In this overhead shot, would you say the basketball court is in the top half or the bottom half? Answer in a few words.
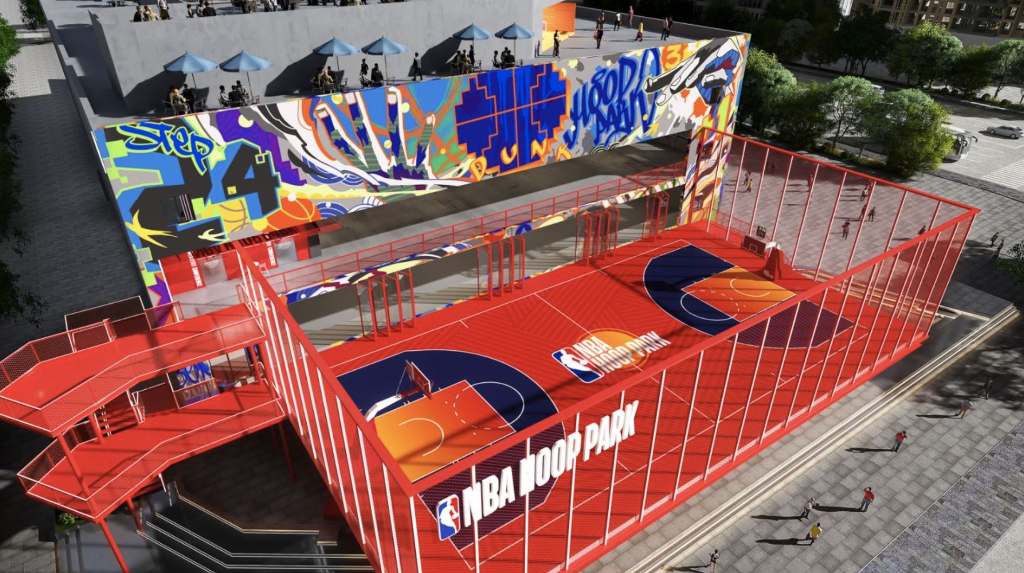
bottom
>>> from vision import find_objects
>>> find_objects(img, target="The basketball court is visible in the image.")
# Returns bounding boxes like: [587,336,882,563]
[265,221,938,573]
